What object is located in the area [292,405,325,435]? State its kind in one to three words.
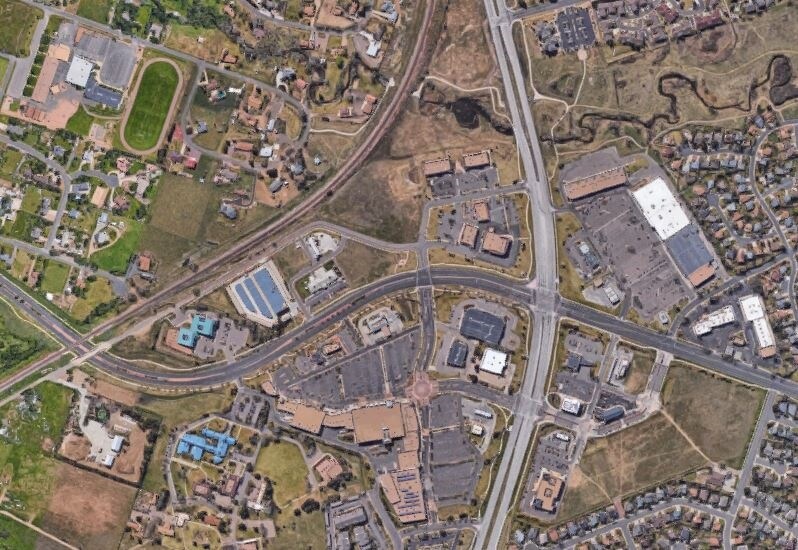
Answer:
building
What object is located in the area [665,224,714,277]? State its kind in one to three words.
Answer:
building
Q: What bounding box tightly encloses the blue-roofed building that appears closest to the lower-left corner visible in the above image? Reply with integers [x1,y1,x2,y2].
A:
[175,428,235,464]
